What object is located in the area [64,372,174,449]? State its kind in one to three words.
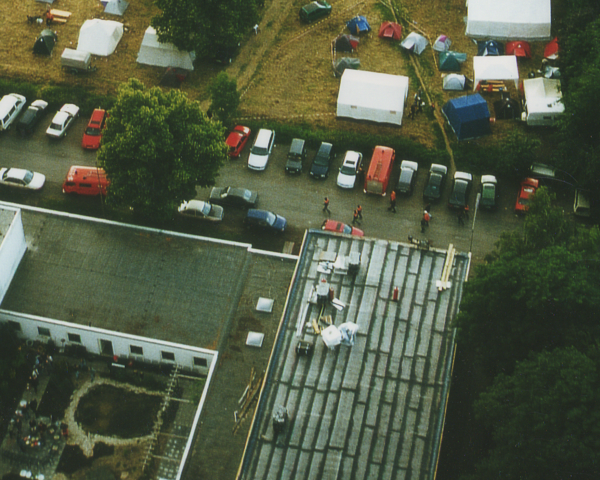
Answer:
pond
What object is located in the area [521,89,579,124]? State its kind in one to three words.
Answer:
camper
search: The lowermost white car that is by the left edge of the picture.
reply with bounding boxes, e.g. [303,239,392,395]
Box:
[0,167,49,192]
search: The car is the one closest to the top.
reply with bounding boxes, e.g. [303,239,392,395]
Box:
[294,1,336,24]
